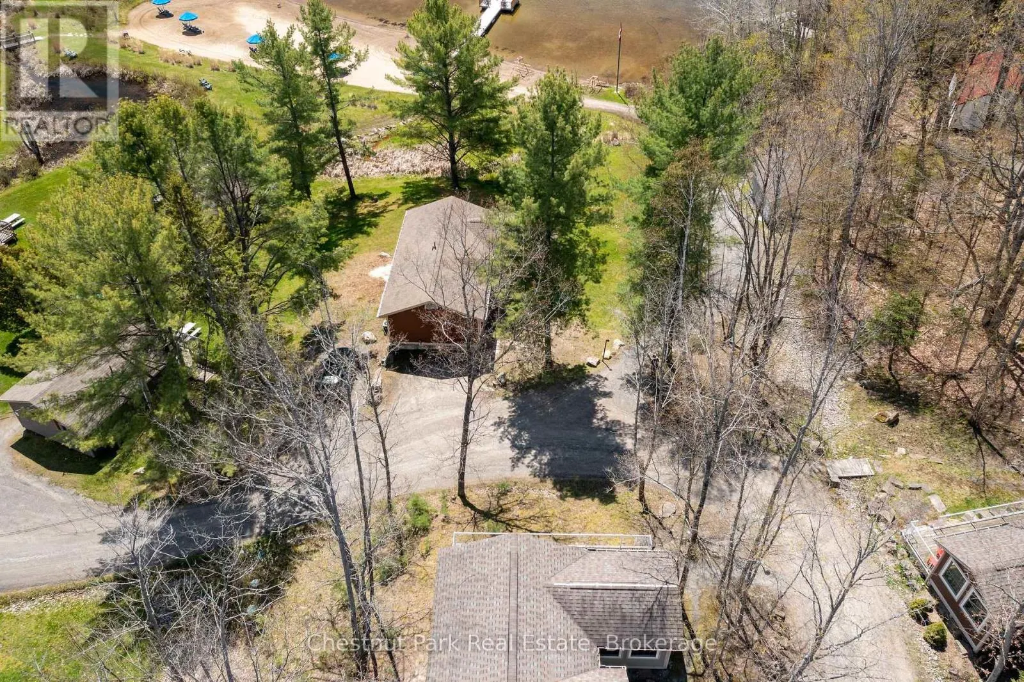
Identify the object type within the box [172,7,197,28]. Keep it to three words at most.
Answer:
umbrella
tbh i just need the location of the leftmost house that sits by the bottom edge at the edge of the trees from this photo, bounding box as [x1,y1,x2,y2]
[426,534,689,682]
